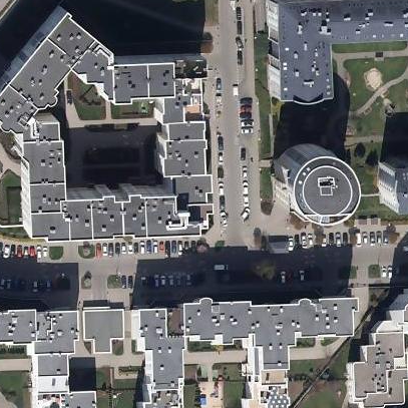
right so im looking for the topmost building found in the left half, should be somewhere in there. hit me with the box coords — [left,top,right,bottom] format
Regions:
[0,8,214,242]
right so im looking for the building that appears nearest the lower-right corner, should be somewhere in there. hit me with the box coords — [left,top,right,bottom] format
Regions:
[340,323,408,407]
